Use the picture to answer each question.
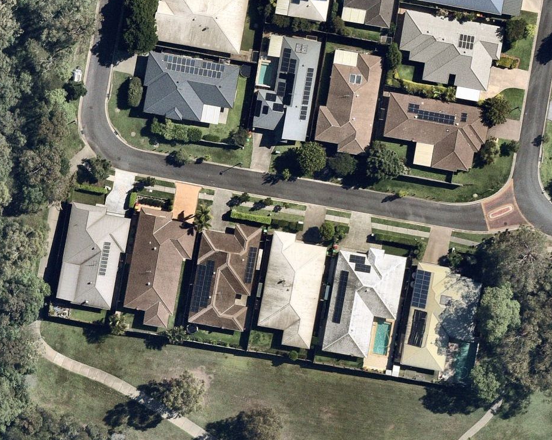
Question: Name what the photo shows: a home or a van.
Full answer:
It is a home that can be seen here.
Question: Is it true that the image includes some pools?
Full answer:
Yes, the photo shows a pool.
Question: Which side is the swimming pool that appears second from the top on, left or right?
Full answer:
You can find the swimming pool that appears second from the top on the right side of the picture.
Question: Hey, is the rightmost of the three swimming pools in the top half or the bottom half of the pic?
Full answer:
The rightmost of the three swimming pools sits in the bottom half of the picture.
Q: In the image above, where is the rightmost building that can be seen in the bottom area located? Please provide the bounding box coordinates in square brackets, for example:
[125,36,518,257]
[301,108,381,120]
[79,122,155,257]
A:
[401,262,484,372]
